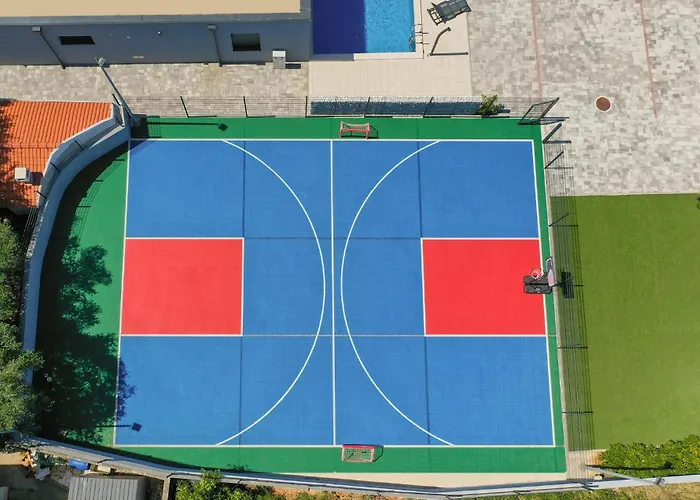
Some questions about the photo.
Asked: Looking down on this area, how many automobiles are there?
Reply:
0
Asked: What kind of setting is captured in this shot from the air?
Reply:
sports ground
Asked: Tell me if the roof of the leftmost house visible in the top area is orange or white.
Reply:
orange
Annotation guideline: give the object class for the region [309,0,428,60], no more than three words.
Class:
swimming pool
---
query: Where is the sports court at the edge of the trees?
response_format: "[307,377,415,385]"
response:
[33,118,565,473]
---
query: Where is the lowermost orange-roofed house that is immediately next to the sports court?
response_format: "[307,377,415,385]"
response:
[0,100,110,209]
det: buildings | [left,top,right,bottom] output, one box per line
[66,473,152,500]
[0,0,311,68]
[0,100,110,209]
